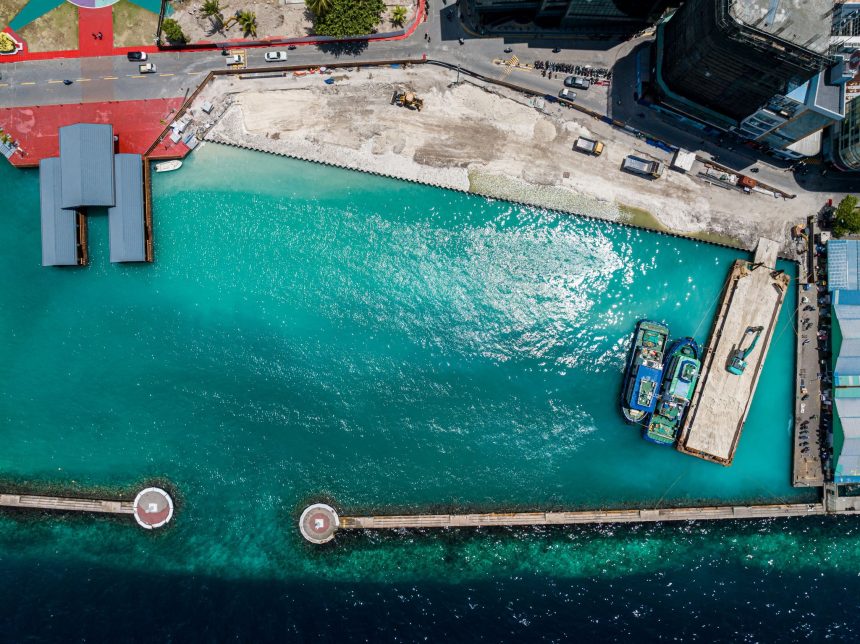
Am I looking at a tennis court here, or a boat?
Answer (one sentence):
This aerial view contains a boat.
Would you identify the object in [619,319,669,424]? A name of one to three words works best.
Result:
boat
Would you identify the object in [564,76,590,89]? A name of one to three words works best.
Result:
vehicle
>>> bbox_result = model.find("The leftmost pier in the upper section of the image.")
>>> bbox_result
[53,204,88,266]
